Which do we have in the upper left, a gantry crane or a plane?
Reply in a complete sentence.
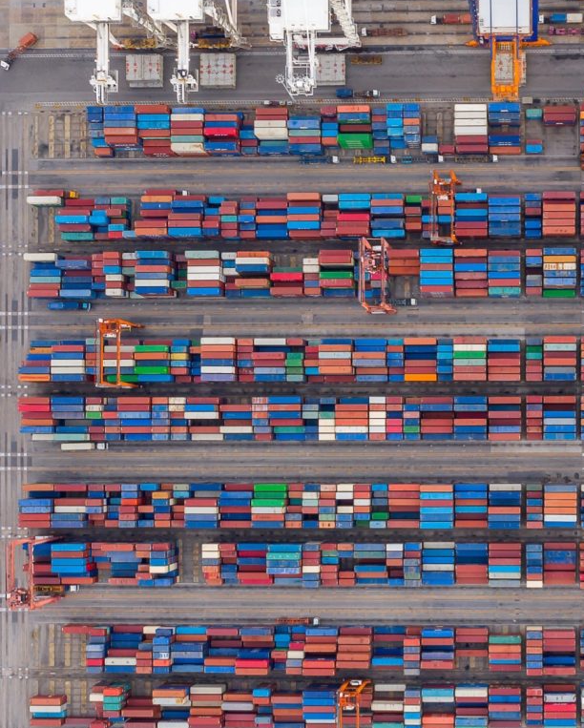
You can see a gantry crane in the upper left.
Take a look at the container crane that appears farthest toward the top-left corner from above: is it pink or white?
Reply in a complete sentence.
The color of the container crane that appears farthest toward the top-left corner is white.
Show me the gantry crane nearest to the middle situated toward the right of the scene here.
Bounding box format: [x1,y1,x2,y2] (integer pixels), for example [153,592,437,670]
[359,238,399,314]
